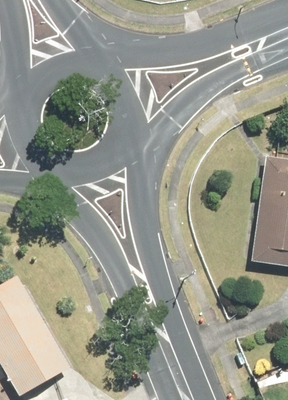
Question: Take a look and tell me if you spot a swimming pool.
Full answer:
No, there appears to be no swimming pool in this shot.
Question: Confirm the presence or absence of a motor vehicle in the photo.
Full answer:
No, the scene contains no motor vehicle.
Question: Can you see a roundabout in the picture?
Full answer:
Yes, there is a roundabout in the image.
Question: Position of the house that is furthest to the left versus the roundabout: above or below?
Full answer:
As seen from overhead, the house that is furthest to the left falls below the roundabout in the picture.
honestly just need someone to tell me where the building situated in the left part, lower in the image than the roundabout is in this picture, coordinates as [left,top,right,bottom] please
[0,276,70,396]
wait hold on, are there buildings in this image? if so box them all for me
[252,156,288,266]
[0,276,70,396]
